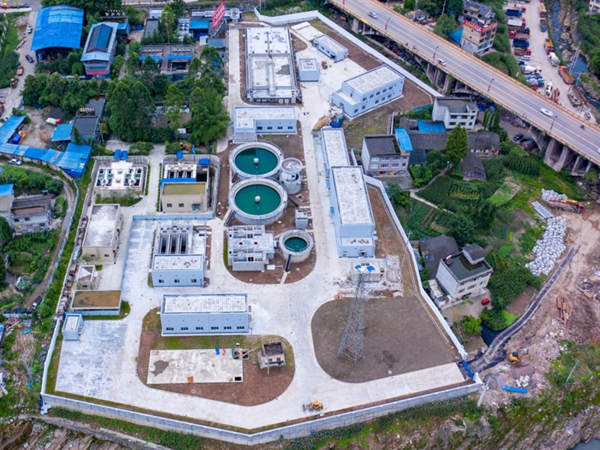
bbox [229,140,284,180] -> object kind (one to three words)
storage tank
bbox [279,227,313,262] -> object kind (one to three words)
storage tank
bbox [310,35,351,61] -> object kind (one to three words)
building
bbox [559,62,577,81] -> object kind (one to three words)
vehicle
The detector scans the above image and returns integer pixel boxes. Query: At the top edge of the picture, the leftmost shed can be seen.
[26,5,90,66]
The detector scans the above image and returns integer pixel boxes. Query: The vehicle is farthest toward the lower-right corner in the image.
[507,350,529,363]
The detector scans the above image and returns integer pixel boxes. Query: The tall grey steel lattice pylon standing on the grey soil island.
[336,271,369,369]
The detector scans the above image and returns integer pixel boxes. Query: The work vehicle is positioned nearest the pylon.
[301,397,323,411]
